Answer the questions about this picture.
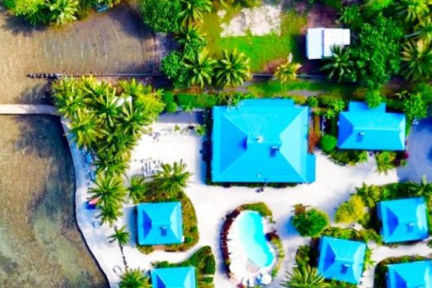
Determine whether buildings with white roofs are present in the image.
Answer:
Yes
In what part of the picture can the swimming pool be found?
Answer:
bottom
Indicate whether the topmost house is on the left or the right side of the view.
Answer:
right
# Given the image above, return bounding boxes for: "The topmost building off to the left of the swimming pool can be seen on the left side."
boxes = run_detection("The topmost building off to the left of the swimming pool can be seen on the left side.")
[134,203,182,245]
